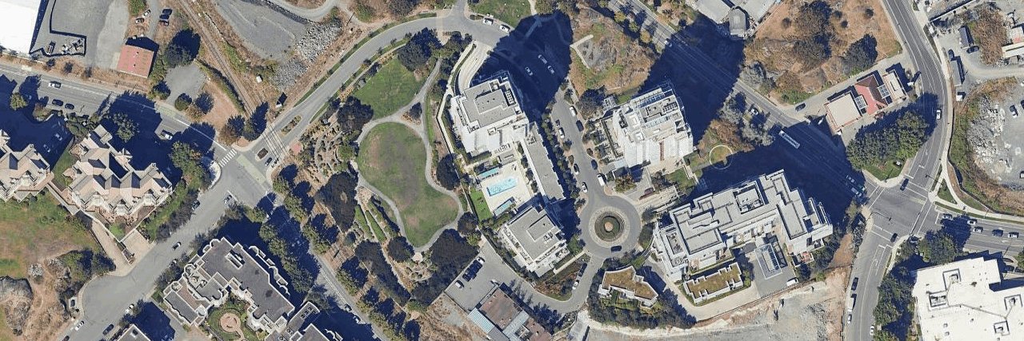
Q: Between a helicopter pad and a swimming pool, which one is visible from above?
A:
swimming pool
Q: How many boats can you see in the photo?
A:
none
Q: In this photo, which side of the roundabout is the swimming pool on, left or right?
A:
to its left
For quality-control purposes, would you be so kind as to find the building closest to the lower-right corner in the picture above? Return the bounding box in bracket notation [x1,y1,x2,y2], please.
[912,257,1024,341]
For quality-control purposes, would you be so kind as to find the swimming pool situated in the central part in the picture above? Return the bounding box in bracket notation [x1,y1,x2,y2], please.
[480,161,533,215]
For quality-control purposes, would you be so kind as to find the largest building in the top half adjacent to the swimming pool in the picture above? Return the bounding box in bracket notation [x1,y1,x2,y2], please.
[451,74,529,160]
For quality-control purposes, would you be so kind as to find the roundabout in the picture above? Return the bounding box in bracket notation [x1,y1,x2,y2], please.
[576,194,642,258]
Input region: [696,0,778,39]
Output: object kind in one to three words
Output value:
building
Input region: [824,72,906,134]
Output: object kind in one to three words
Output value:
building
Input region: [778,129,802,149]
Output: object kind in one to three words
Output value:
bus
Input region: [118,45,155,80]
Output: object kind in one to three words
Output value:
shed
